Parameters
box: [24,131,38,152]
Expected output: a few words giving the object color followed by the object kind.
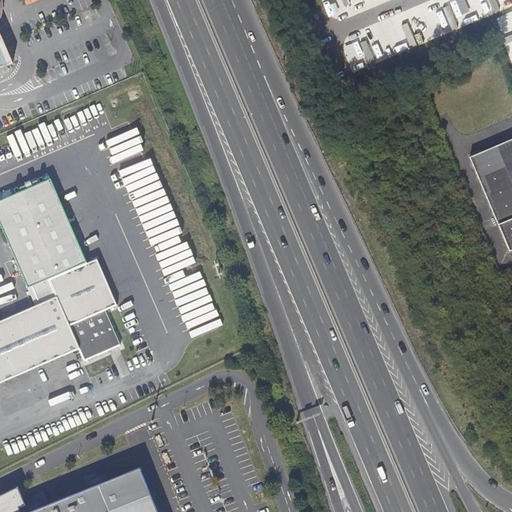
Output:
white vehicle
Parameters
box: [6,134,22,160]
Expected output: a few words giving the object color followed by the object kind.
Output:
white vehicle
